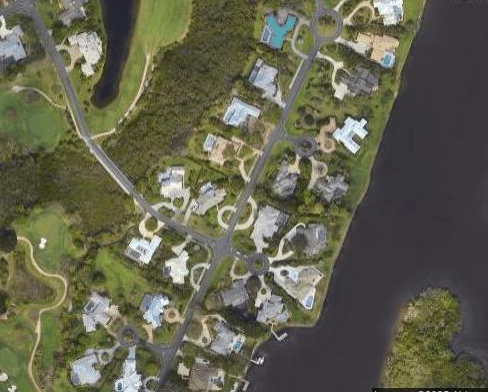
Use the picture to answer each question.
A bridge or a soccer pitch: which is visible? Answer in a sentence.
Visible in the photo is a bridge.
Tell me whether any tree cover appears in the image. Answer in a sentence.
Yes, tree cover can be seen from above here.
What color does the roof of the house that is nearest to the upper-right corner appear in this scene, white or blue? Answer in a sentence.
The roof of the house that is nearest to the upper-right corner looks white in the image.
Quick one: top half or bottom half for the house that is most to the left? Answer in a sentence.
You can find the house that is most to the left in the top half.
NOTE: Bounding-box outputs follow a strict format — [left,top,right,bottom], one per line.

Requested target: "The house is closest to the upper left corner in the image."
[0,28,27,66]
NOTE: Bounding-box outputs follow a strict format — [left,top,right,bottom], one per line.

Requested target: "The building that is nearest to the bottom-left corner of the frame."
[68,352,101,385]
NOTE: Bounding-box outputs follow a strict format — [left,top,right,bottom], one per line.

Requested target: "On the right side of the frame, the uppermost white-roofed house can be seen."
[374,0,404,25]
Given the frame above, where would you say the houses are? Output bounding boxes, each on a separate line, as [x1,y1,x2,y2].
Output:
[126,235,160,263]
[67,29,105,79]
[140,292,169,328]
[210,319,245,356]
[160,165,184,197]
[374,0,404,25]
[0,28,27,66]
[224,98,262,127]
[261,15,299,49]
[68,352,101,385]
[357,32,398,68]
[334,117,369,153]
[257,294,289,324]
[342,67,379,94]
[190,359,224,392]
[270,265,321,309]
[249,59,278,97]
[59,0,87,25]
[319,175,347,202]
[115,359,144,392]
[189,183,225,214]
[297,224,327,257]
[275,160,300,194]
[253,206,288,243]
[165,251,188,283]
[221,279,249,307]
[82,292,110,332]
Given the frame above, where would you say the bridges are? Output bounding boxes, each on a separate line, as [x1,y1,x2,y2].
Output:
[87,139,136,196]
